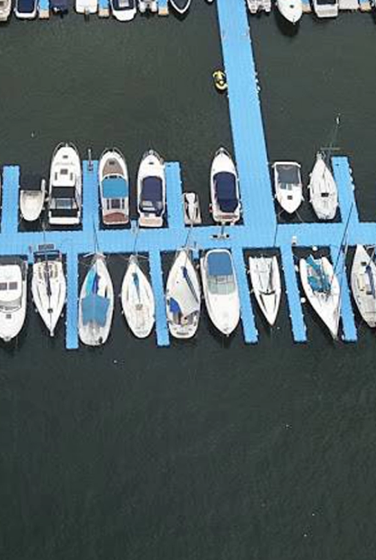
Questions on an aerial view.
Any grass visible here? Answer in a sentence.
No, no grass is visible.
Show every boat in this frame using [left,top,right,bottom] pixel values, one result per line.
[275,0,305,26]
[208,148,247,230]
[19,176,49,223]
[51,0,69,14]
[346,222,376,335]
[0,257,28,340]
[107,0,137,26]
[31,244,69,340]
[199,248,244,339]
[295,240,346,339]
[75,0,99,20]
[246,236,290,324]
[162,221,201,346]
[244,0,270,19]
[98,148,131,235]
[119,226,156,341]
[171,0,190,16]
[306,114,340,223]
[271,159,302,222]
[139,0,160,18]
[13,0,39,23]
[184,194,200,226]
[47,140,84,233]
[137,149,167,234]
[310,0,348,23]
[78,235,115,353]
